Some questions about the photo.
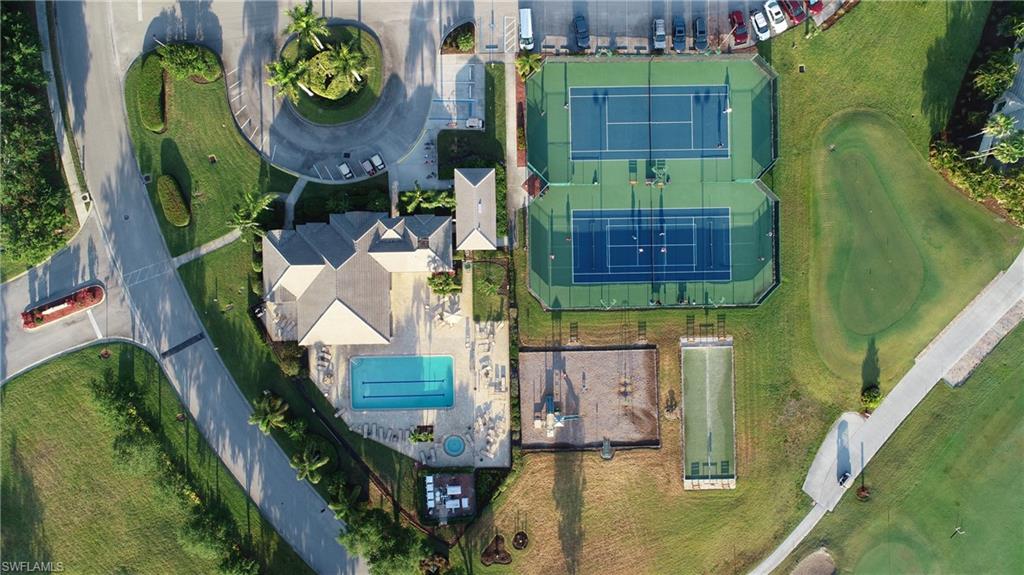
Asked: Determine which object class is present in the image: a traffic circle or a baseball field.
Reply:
traffic circle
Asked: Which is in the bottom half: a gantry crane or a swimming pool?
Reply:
swimming pool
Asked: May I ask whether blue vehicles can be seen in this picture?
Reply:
Yes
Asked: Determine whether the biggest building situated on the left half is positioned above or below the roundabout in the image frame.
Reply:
below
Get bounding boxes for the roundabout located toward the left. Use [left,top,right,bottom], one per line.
[279,19,384,125]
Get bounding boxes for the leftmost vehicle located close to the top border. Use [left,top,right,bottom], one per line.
[518,4,536,48]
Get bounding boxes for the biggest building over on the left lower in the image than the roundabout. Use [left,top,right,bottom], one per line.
[262,211,453,345]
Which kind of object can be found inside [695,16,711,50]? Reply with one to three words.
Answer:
car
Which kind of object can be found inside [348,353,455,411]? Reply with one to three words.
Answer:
swimming pool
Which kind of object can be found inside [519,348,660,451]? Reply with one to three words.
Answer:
playground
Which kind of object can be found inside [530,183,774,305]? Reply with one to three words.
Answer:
tennis court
